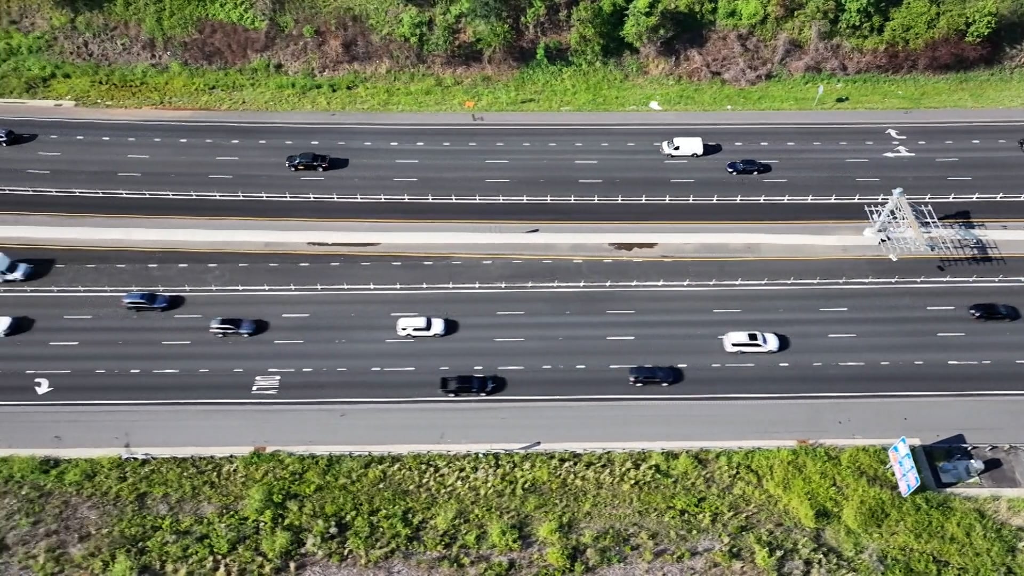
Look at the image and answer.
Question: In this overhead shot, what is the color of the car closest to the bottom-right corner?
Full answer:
The car closest to the bottom-right corner looks black in the image.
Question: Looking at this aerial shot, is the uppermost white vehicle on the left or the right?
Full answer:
You can find the uppermost white vehicle on the right side of the picture.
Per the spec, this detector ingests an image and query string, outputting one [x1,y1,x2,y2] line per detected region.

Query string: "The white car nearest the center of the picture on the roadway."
[398,315,446,338]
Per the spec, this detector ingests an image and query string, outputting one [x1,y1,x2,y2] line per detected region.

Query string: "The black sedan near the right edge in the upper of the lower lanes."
[965,301,1015,321]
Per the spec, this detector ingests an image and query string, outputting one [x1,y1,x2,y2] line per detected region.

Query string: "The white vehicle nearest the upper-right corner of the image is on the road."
[661,137,705,157]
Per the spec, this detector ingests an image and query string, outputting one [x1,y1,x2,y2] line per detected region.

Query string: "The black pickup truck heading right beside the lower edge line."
[437,373,492,397]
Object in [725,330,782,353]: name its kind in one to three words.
car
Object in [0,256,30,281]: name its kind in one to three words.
vehicle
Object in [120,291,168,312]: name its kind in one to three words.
car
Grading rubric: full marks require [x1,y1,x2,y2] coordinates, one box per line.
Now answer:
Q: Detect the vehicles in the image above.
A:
[726,159,764,174]
[627,363,674,386]
[0,317,15,336]
[398,315,446,338]
[437,373,492,397]
[965,301,1015,321]
[661,137,705,157]
[0,256,30,281]
[208,315,256,337]
[284,152,331,171]
[725,330,782,353]
[120,291,168,312]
